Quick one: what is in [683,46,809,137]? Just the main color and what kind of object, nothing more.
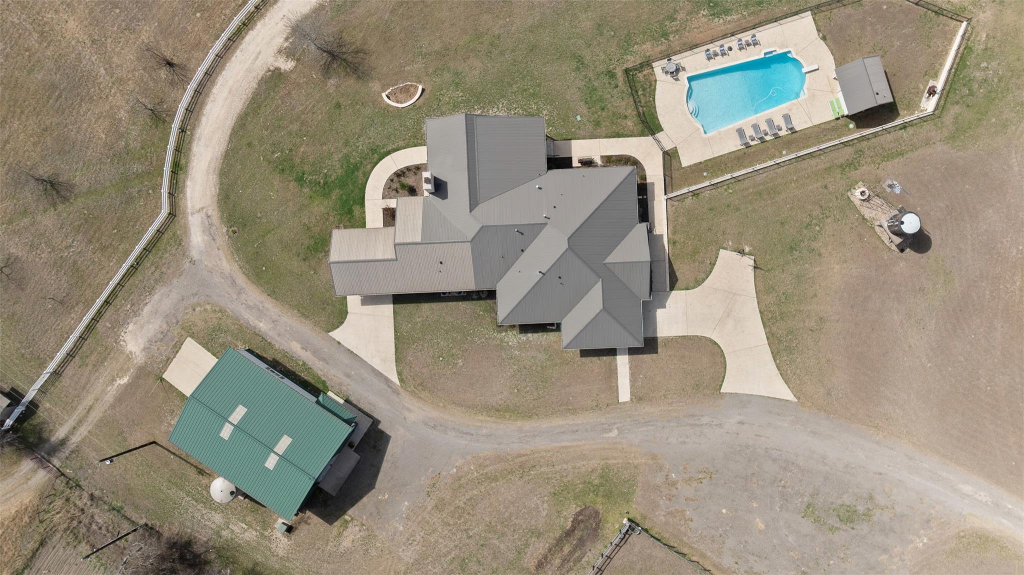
blue swimming pool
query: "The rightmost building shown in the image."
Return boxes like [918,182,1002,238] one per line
[826,56,894,118]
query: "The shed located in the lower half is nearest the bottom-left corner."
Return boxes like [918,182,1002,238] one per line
[0,379,31,422]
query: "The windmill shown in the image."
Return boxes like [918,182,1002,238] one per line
[852,175,914,202]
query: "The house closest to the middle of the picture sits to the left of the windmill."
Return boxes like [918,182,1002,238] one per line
[327,113,652,351]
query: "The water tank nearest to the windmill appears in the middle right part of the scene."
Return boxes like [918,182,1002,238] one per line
[870,206,922,251]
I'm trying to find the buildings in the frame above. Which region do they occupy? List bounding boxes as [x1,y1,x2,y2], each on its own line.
[327,113,652,351]
[826,56,894,118]
[167,345,357,523]
[0,379,31,422]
